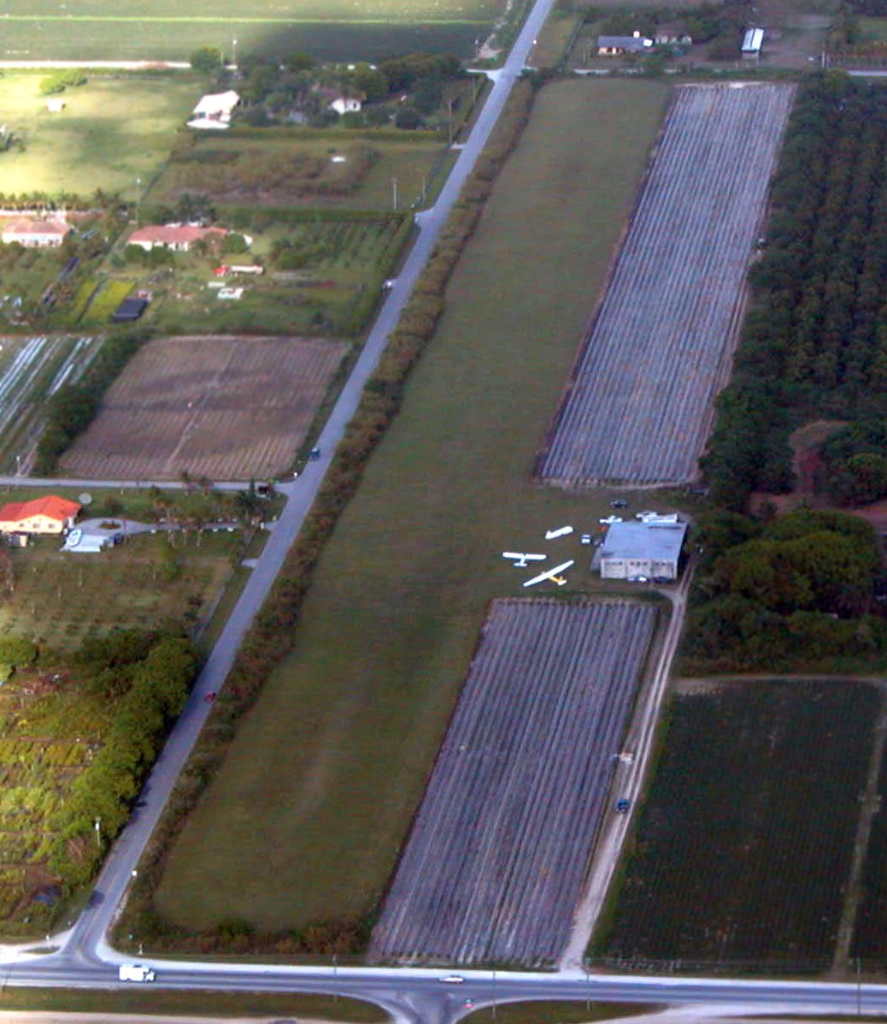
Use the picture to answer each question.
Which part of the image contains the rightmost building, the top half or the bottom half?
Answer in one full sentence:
The rightmost building sits in the top half of the picture.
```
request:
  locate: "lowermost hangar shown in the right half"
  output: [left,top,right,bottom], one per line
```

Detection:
[584,526,689,580]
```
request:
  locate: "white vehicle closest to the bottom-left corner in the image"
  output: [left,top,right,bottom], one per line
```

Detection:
[118,962,156,982]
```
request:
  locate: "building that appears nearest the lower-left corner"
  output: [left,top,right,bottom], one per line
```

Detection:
[0,495,87,536]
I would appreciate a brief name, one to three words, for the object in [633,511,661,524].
vehicle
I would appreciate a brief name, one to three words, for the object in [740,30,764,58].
building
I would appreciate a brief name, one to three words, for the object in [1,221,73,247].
house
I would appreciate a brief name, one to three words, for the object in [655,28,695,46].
house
